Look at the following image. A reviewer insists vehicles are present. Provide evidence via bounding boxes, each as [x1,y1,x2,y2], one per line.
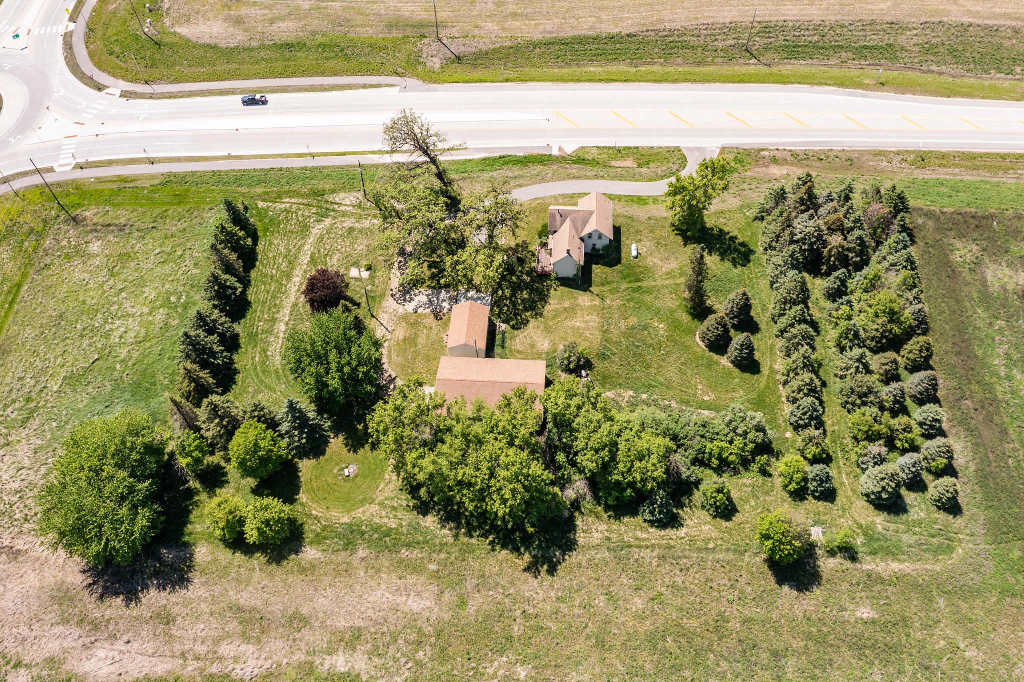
[577,363,593,382]
[240,94,269,106]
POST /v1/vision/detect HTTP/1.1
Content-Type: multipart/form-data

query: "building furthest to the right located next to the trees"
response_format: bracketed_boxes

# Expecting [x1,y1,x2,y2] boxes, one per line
[533,190,613,282]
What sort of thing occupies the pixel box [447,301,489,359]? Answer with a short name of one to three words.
building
